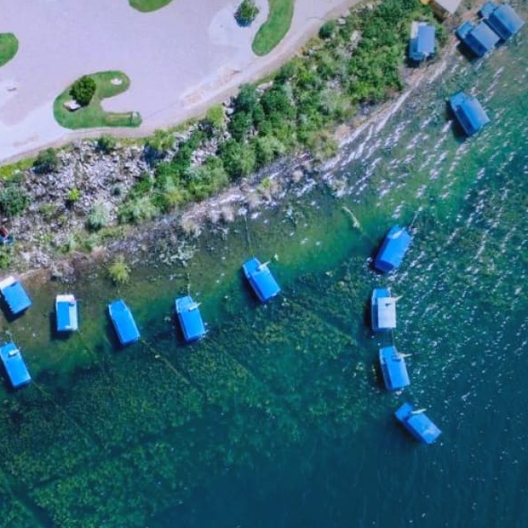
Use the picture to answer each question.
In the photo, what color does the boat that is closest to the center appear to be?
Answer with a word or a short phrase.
blue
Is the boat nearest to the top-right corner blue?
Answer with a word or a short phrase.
Yes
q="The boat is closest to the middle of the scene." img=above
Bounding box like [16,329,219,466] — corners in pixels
[244,254,286,300]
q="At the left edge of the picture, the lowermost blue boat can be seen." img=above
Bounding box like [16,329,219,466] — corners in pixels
[0,343,31,387]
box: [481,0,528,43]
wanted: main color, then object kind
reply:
blue boat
